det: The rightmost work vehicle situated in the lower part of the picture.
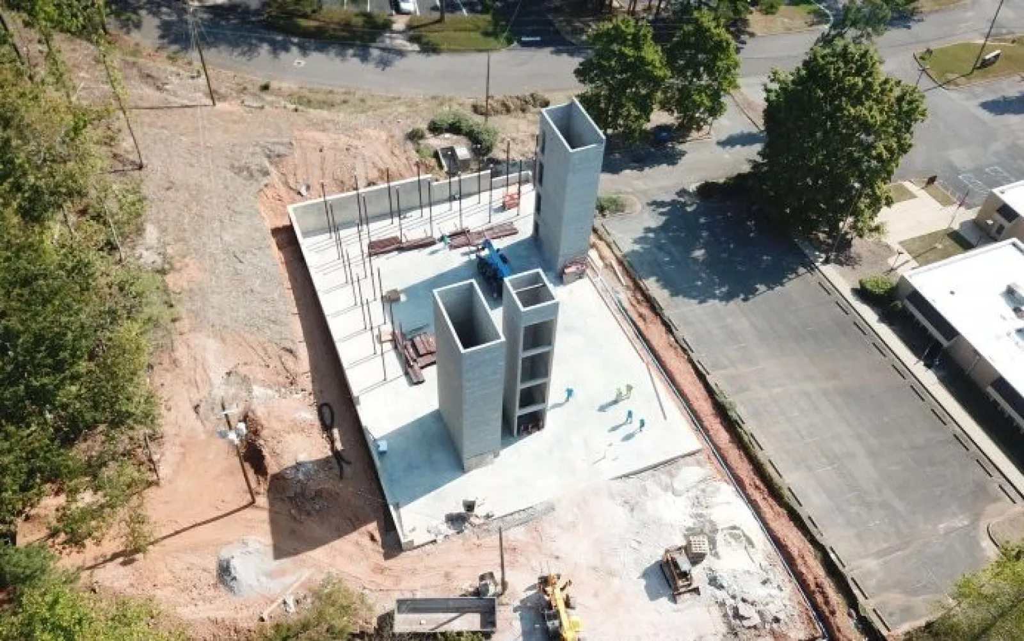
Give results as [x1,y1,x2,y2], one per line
[656,540,705,604]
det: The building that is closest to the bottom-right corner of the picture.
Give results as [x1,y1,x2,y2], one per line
[896,234,1024,449]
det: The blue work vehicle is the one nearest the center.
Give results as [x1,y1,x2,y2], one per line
[473,240,517,291]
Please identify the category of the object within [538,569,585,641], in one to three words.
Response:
work vehicle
